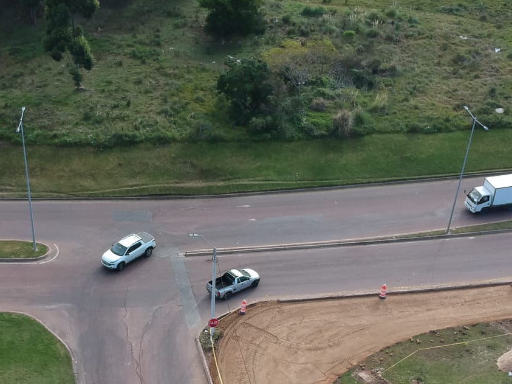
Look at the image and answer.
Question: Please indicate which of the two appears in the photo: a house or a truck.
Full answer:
The one in the frame is a truck.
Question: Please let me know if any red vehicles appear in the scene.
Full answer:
No, the scene contains no red vehicle.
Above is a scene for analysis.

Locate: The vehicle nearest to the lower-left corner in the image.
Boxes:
[100,232,158,271]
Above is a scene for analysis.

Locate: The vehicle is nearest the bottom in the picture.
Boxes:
[207,266,261,300]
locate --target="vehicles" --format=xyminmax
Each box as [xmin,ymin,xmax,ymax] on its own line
[100,232,158,271]
[468,173,512,213]
[207,266,261,300]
